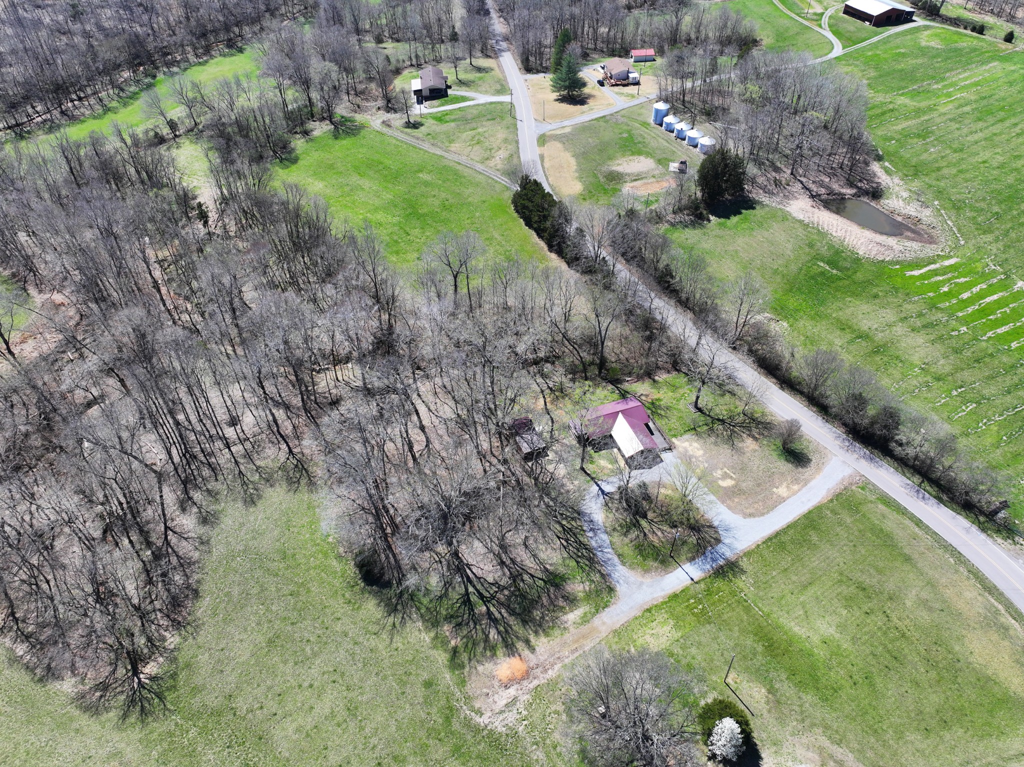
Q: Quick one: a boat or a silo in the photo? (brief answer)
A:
silo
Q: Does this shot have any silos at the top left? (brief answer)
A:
No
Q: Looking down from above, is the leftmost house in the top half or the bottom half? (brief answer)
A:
top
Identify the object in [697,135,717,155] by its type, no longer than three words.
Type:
silo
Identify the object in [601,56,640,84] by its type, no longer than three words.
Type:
house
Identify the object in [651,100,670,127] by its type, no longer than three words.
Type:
silo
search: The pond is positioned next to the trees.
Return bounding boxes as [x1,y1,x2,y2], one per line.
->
[817,198,907,239]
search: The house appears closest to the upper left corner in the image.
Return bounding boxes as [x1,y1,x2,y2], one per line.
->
[411,66,448,96]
